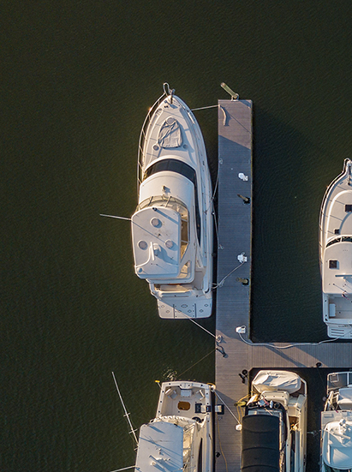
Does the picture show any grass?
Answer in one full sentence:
No, there is no grass in the image.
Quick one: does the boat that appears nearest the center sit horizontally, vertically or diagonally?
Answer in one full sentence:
The boat that appears nearest the center runs vertically in the image.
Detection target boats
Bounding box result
[103,83,218,318]
[319,372,352,472]
[242,368,310,472]
[112,371,226,472]
[319,157,352,338]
